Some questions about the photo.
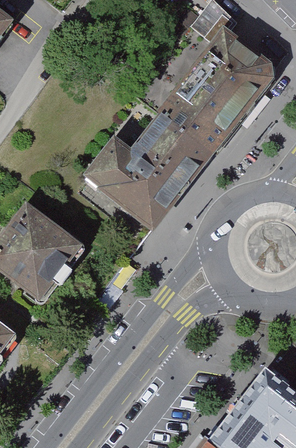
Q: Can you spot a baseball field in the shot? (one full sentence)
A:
No, the scene contains no baseball field.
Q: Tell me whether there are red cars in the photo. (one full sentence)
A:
Yes, the photo shows a red car.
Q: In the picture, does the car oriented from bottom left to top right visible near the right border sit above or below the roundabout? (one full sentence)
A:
The car oriented from bottom left to top right visible near the right border appears above the roundabout in the picture.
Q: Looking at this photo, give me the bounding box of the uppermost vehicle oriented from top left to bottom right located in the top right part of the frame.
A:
[220,0,242,16]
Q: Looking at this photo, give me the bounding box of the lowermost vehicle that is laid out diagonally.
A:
[108,423,128,444]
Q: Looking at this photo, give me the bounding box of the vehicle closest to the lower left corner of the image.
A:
[54,394,72,414]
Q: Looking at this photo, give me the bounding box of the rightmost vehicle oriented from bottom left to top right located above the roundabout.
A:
[270,75,290,97]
